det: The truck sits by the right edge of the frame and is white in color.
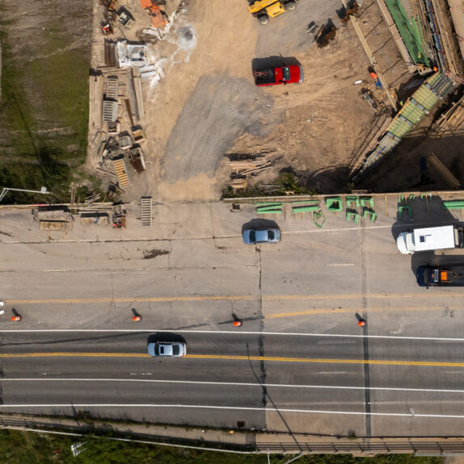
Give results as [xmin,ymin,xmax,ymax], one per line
[397,227,464,253]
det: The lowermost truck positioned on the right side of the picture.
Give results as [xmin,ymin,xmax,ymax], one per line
[418,264,464,288]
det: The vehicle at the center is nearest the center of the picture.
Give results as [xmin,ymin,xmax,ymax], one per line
[243,225,283,243]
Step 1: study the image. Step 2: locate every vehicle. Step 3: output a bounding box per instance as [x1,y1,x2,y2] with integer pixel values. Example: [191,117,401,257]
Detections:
[418,264,464,288]
[149,340,189,359]
[253,63,305,86]
[243,225,283,243]
[250,0,299,21]
[397,227,464,253]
